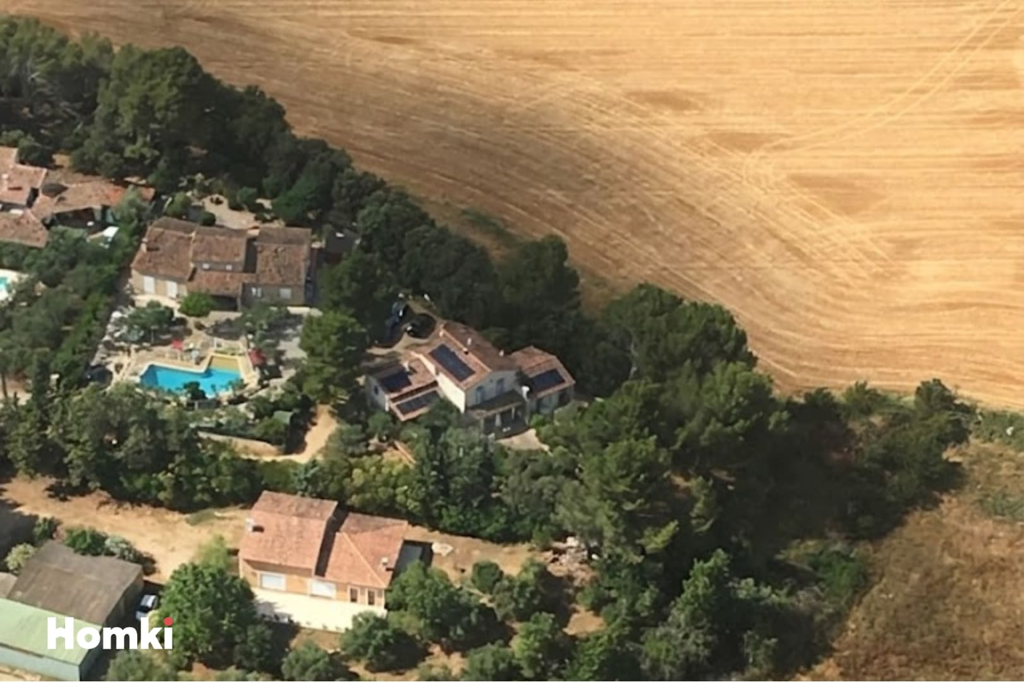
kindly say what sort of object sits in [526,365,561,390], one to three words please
solar array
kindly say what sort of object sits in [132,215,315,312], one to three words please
house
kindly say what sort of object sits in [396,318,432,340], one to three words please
car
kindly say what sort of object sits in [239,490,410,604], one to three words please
house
